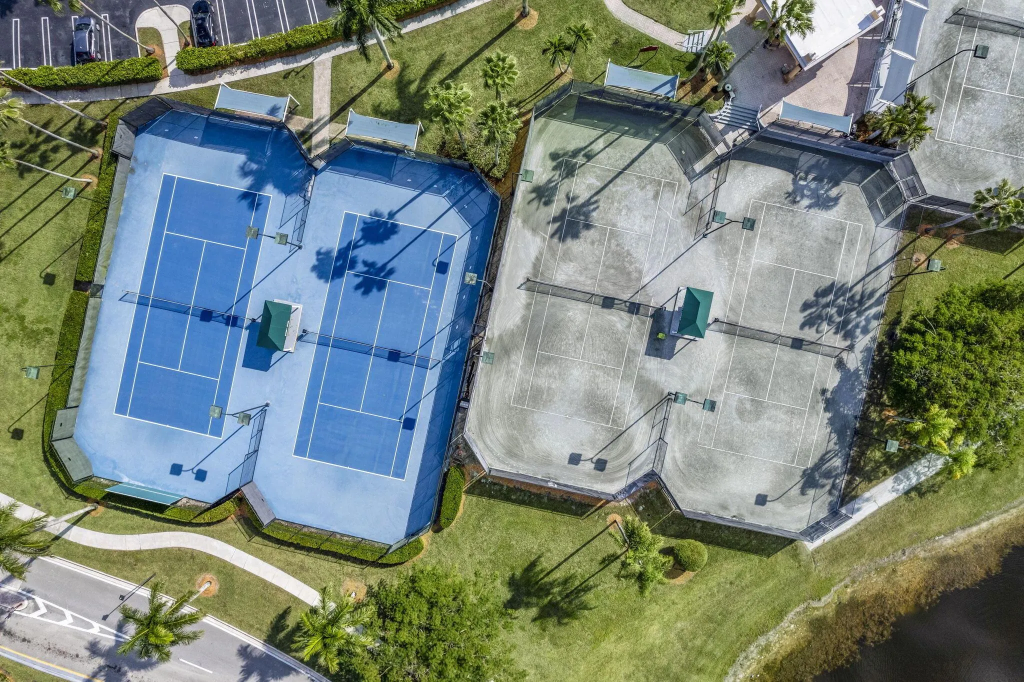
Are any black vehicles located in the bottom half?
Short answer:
No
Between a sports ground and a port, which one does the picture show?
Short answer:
sports ground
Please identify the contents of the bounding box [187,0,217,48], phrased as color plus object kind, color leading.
black car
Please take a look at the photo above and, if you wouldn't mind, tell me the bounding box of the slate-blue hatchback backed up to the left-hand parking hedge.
[69,15,99,64]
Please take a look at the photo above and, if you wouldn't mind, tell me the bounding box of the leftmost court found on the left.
[73,108,318,503]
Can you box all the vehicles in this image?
[187,0,217,48]
[69,15,99,64]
